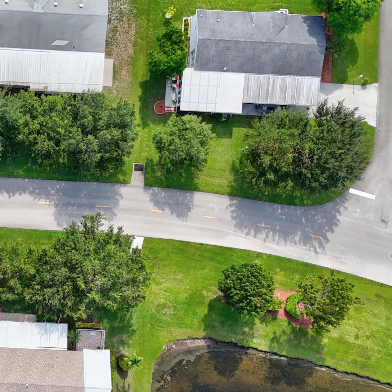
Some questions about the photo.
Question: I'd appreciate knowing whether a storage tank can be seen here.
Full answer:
No, no storage tank can be seen from above.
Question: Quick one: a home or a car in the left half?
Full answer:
The feature located in the left half is a home.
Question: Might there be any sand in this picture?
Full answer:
No, the scene doesn't show any sand.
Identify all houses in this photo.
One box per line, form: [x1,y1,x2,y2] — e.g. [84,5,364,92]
[0,320,113,392]
[179,9,326,114]
[0,0,110,93]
